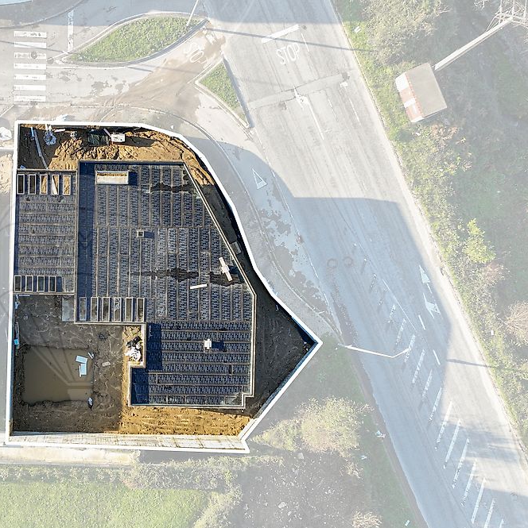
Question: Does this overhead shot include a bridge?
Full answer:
No, I can't see a single bridge in this photo.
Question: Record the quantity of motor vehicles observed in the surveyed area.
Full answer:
The count of motor vehicles is 0.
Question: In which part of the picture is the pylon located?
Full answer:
The pylon sits in the top right section of the image.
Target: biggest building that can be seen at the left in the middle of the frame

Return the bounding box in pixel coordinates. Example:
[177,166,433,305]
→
[11,161,256,410]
